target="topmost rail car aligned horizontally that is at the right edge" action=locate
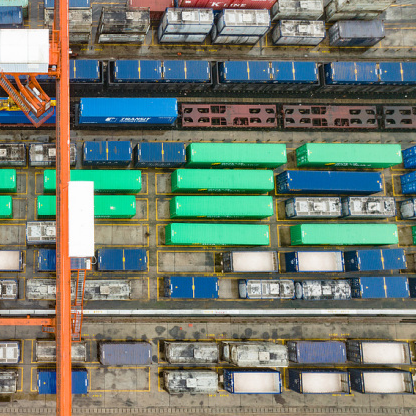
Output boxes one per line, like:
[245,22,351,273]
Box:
[316,61,416,92]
